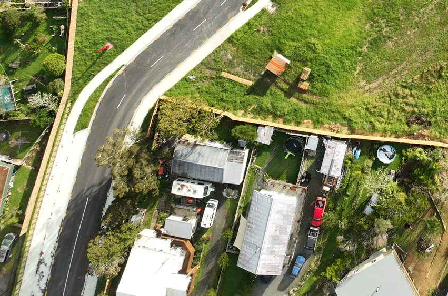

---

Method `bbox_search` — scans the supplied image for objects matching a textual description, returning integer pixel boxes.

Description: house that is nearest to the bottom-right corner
[334,244,428,296]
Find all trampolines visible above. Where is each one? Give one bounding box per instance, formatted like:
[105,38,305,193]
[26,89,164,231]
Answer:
[282,138,303,161]
[0,131,9,147]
